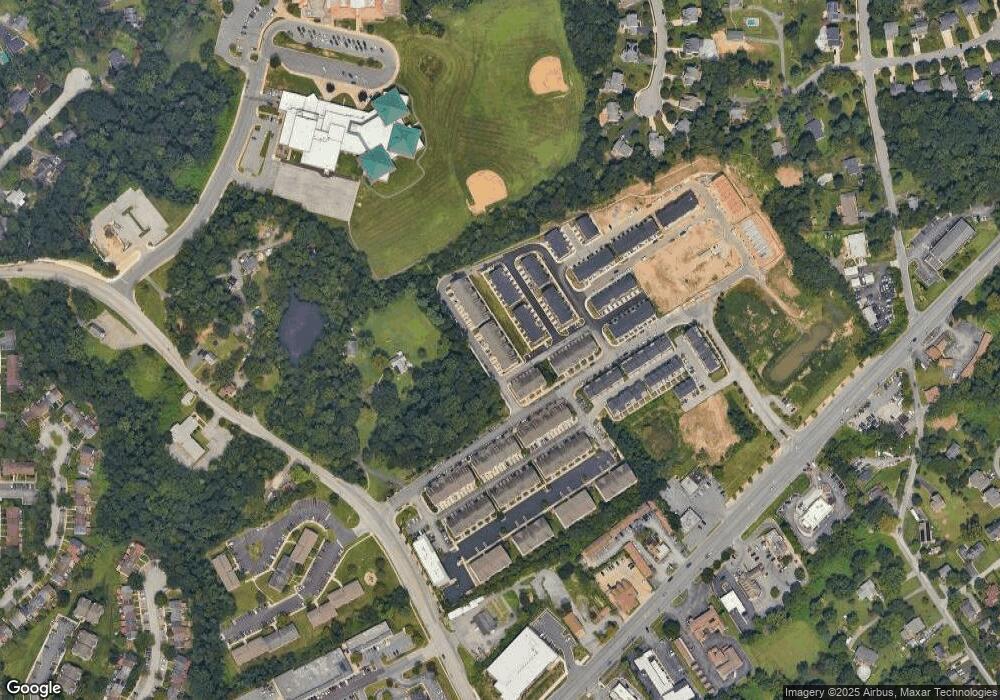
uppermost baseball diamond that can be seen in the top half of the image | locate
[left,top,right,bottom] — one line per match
[530,57,572,98]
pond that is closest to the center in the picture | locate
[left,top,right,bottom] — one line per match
[279,297,326,364]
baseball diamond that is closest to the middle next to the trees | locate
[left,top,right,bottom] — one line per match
[466,170,508,217]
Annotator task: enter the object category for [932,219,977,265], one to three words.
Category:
barn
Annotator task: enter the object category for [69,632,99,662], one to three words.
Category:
building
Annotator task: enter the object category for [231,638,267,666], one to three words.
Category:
building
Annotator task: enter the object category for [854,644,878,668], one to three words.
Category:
house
